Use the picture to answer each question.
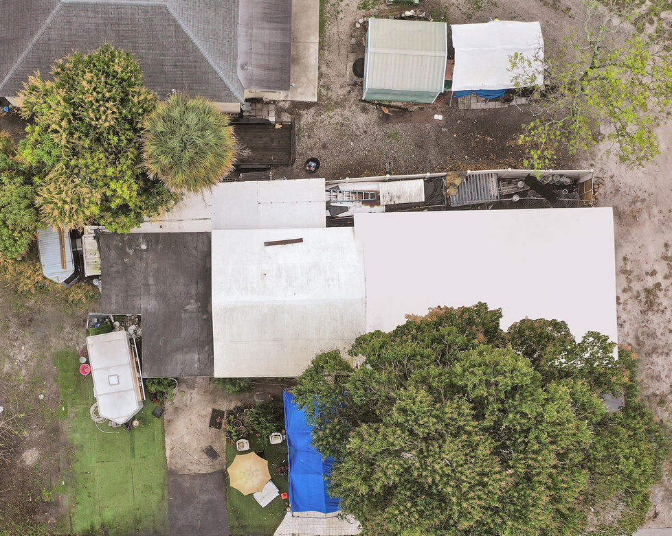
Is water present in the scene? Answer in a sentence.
No, there's no water in this view.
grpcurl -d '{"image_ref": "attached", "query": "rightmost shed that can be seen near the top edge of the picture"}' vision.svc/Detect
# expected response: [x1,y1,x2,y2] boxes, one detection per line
[362,17,449,104]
